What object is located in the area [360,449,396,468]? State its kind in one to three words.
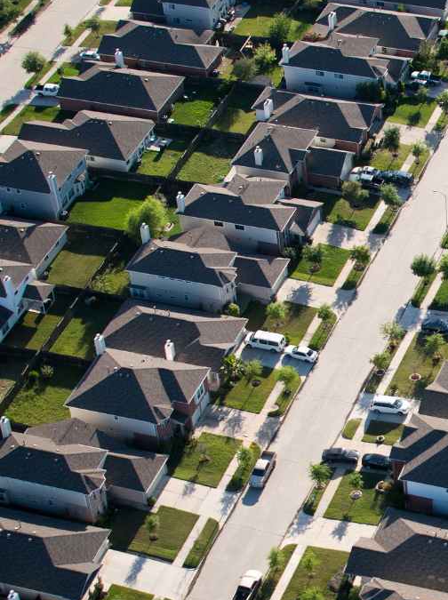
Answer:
car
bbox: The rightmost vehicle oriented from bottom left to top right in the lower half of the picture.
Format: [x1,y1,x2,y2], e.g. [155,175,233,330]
[248,446,278,482]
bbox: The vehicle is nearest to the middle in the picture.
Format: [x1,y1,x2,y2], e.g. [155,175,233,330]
[245,327,289,350]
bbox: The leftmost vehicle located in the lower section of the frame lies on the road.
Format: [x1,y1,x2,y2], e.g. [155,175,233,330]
[228,568,261,600]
